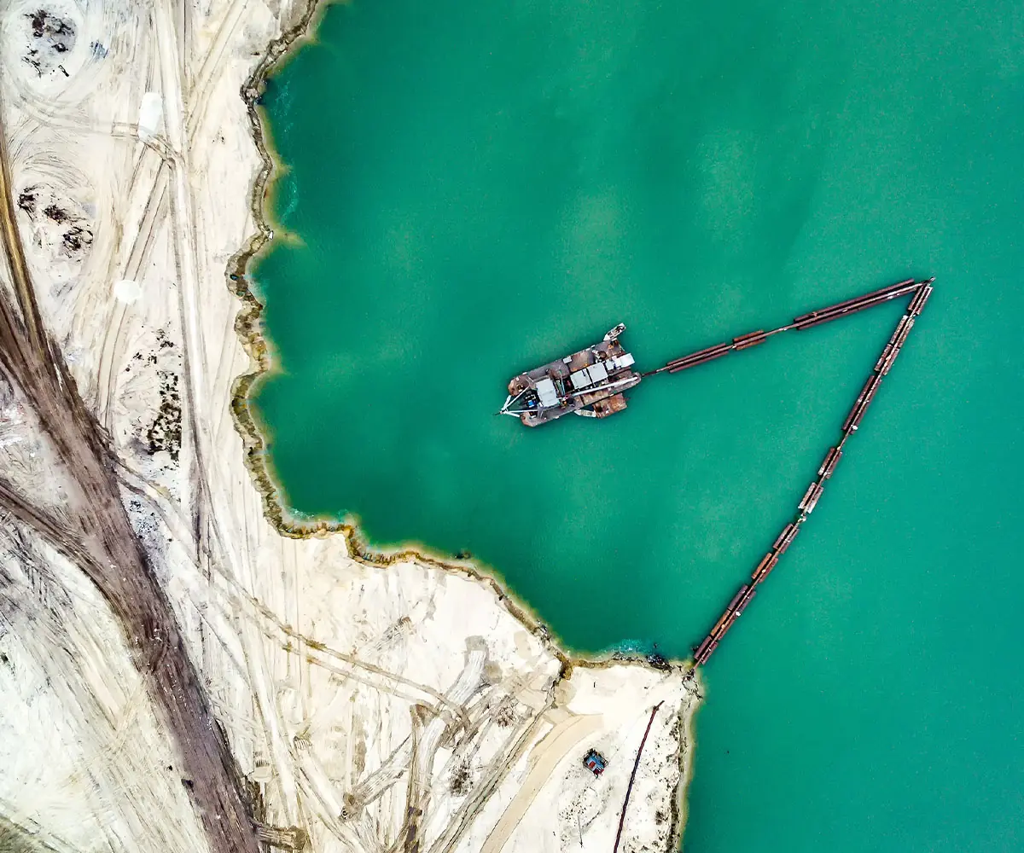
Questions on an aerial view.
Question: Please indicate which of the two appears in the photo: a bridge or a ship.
ship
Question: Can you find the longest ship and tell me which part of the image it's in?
center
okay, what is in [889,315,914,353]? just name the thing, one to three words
pier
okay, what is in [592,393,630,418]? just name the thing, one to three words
ship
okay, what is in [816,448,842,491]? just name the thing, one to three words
pier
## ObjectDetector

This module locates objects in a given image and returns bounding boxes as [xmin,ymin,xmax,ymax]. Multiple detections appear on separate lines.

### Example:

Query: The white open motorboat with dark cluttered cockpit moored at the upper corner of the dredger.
[604,323,627,342]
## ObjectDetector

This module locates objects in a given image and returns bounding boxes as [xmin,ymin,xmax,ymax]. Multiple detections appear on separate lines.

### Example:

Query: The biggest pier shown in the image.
[782,279,922,330]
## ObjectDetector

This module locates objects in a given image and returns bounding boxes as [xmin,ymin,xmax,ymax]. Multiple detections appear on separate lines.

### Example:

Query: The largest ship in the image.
[496,339,642,427]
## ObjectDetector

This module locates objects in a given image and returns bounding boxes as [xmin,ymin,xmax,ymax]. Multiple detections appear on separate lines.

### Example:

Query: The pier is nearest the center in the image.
[641,343,734,376]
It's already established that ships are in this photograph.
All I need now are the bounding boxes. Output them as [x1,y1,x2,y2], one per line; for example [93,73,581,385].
[592,393,630,418]
[496,339,642,427]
